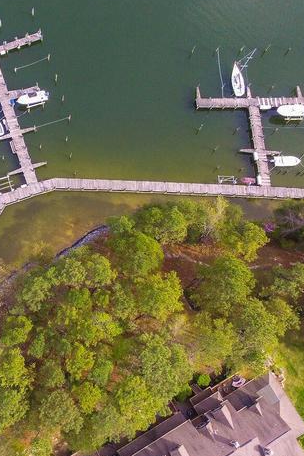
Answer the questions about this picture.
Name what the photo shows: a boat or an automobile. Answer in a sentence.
It is a boat that can be seen here.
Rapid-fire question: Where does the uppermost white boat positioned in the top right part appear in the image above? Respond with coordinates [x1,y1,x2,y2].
[230,44,259,98]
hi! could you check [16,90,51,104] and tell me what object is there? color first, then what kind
white boat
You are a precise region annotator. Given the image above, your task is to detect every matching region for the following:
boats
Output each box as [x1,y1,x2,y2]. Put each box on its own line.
[269,157,300,167]
[239,178,254,184]
[16,90,51,104]
[274,107,304,119]
[230,44,259,98]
